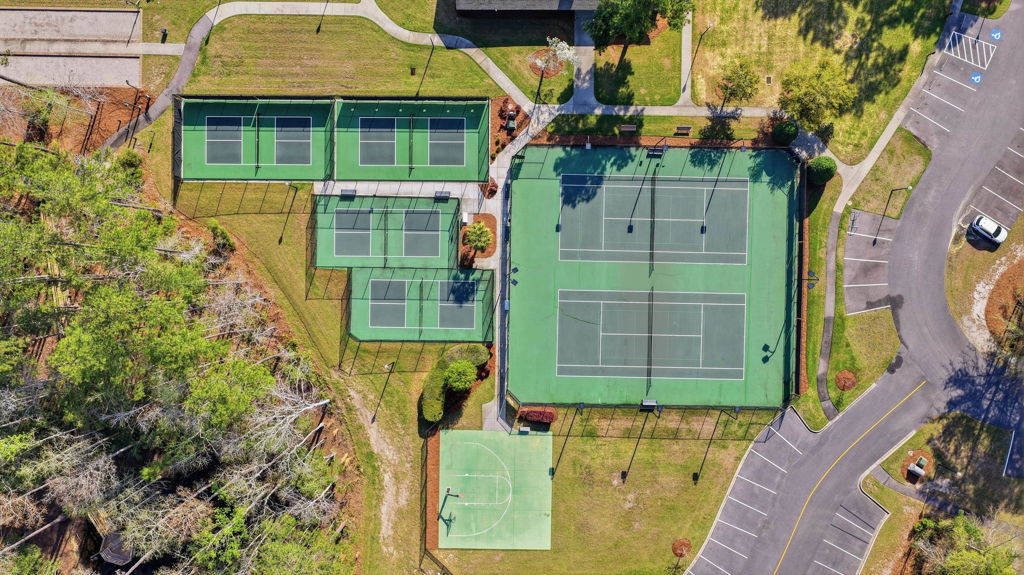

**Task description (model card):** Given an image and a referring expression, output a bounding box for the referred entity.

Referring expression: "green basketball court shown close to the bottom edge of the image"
[439,430,552,550]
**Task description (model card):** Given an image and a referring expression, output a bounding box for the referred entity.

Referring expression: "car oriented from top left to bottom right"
[972,214,1011,243]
